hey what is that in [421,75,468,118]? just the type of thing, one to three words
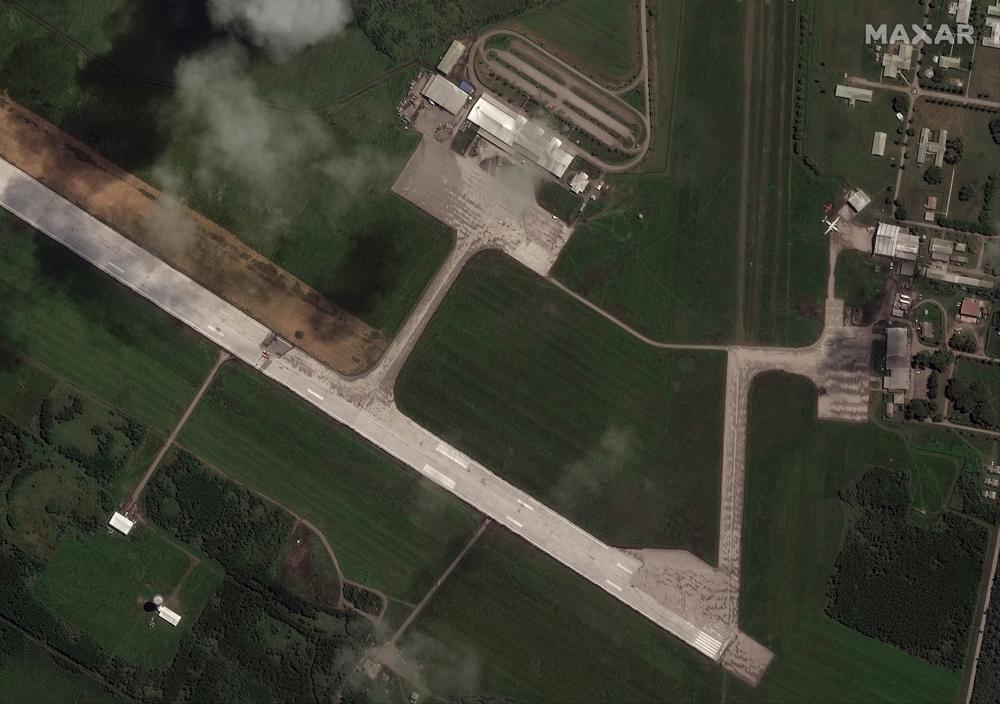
hangar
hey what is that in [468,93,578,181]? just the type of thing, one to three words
building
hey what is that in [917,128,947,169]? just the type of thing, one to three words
house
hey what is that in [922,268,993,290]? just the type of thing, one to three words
shed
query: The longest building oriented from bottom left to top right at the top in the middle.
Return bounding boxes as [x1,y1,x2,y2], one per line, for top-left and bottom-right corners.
[438,40,465,77]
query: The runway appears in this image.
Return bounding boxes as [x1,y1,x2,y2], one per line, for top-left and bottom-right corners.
[0,157,732,659]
